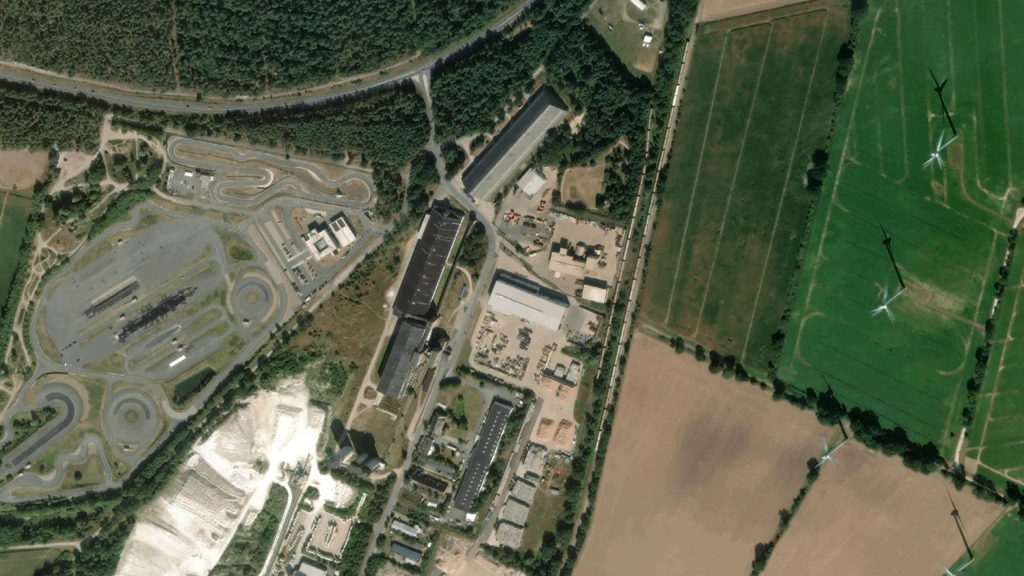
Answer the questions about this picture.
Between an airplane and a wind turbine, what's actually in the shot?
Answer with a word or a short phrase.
wind turbine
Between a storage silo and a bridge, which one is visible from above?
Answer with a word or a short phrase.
storage silo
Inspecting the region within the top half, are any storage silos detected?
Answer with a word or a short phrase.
No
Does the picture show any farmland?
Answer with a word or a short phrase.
Yes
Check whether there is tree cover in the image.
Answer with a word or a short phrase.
Yes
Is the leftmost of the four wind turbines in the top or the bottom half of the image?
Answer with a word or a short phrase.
bottom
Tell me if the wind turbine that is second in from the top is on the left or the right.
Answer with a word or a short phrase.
right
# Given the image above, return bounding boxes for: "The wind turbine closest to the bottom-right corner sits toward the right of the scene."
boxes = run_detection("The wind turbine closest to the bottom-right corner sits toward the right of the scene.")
[945,555,977,576]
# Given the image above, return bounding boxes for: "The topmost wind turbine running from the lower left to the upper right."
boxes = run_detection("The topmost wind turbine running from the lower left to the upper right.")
[933,130,959,165]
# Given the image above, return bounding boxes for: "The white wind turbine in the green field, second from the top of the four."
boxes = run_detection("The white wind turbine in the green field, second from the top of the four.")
[881,285,908,324]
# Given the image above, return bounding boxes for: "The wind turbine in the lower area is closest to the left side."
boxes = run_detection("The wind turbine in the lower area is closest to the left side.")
[825,435,851,470]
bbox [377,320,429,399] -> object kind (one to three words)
building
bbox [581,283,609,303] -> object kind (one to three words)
building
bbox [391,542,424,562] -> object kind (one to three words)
barn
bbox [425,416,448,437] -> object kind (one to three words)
house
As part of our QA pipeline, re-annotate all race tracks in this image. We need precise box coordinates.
[164,133,379,211]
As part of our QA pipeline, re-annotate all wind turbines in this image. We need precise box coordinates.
[945,555,977,576]
[881,285,908,324]
[825,435,851,470]
[933,130,959,165]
